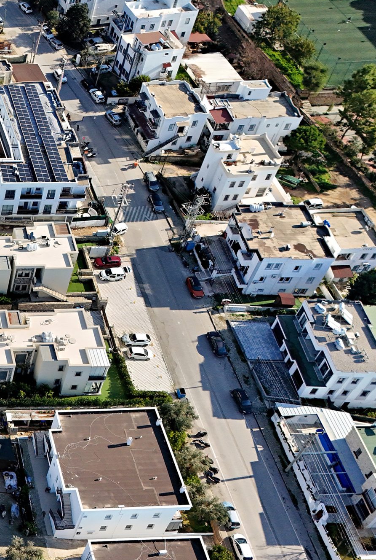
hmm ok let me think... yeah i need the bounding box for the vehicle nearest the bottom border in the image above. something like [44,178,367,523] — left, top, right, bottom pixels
[226,532,255,560]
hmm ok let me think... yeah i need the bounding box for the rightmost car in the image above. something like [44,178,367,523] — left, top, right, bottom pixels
[297,195,329,210]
